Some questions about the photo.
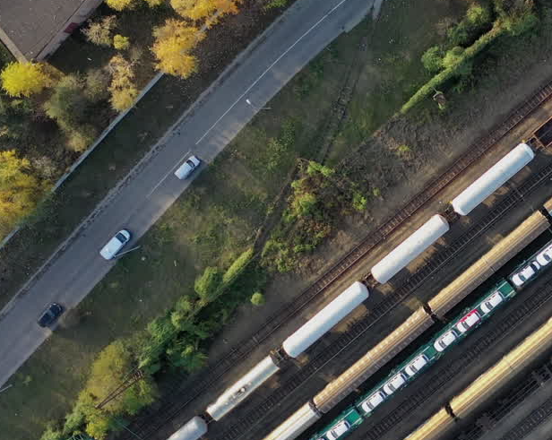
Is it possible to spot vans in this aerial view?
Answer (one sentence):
Yes, I can see a van in this picture.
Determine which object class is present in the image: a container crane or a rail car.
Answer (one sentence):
I can see a rail car in this picture.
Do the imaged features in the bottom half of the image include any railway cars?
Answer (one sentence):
Yes, in the bottom half of the image there is a railway car.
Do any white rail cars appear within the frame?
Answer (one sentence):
Yes, I can see a white rail car in this picture.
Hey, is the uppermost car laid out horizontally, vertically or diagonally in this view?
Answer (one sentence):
In this picture, the uppermost car is oriented diagonally.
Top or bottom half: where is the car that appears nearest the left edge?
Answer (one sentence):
The car that appears nearest the left edge sits in the bottom half of the picture.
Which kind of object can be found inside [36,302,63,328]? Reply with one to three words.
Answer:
car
